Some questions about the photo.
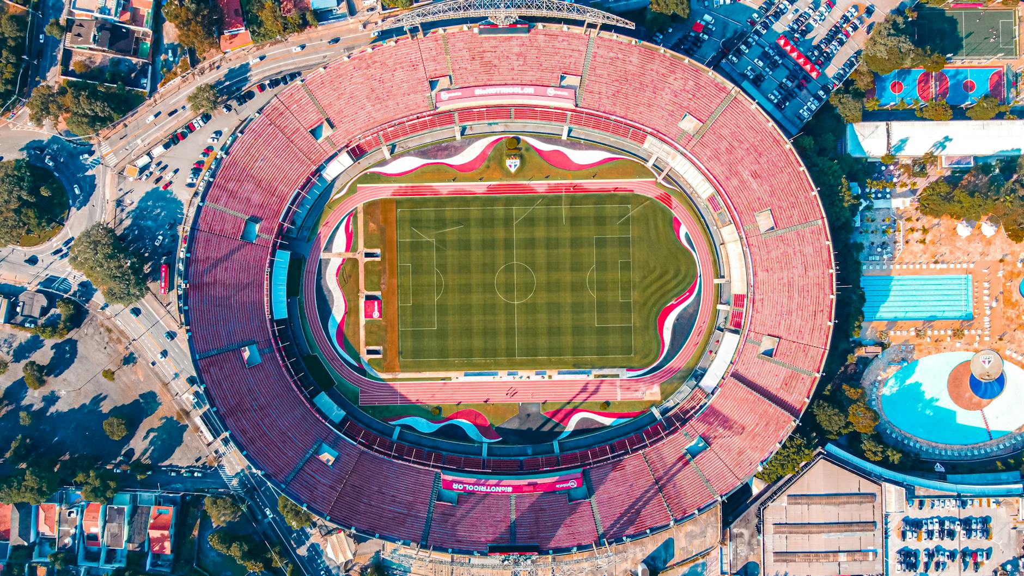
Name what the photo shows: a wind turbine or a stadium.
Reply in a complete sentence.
There is a stadium in the scene.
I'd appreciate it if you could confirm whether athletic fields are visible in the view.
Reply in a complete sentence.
Yes, there is an athletic field in the image.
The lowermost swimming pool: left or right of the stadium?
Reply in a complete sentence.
In the image, the lowermost swimming pool sits on the right side of the stadium.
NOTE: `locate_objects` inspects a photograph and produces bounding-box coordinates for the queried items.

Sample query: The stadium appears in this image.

[176,24,842,556]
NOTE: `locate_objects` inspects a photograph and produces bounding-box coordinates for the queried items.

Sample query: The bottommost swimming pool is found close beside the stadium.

[880,351,1024,446]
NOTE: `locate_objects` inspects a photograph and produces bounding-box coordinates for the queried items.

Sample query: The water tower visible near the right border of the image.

[970,349,1004,383]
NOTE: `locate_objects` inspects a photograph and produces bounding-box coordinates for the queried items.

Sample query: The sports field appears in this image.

[397,193,698,372]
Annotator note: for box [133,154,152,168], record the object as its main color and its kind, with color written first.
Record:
white vehicle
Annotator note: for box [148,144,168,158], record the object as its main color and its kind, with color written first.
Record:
white vehicle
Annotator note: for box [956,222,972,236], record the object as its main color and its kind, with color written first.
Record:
white umbrella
